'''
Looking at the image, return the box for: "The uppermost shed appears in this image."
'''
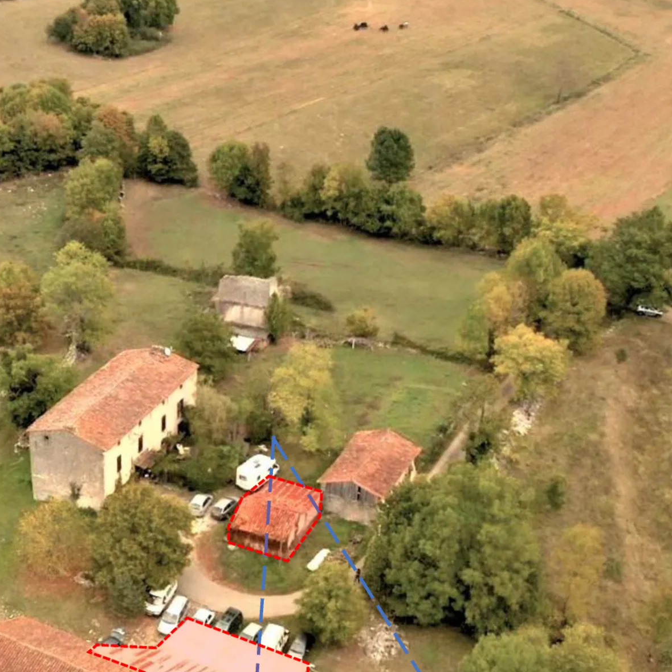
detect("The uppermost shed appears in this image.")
[219,275,277,337]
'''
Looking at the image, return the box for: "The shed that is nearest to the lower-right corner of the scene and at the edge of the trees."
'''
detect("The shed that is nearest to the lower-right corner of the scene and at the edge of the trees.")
[316,427,420,526]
